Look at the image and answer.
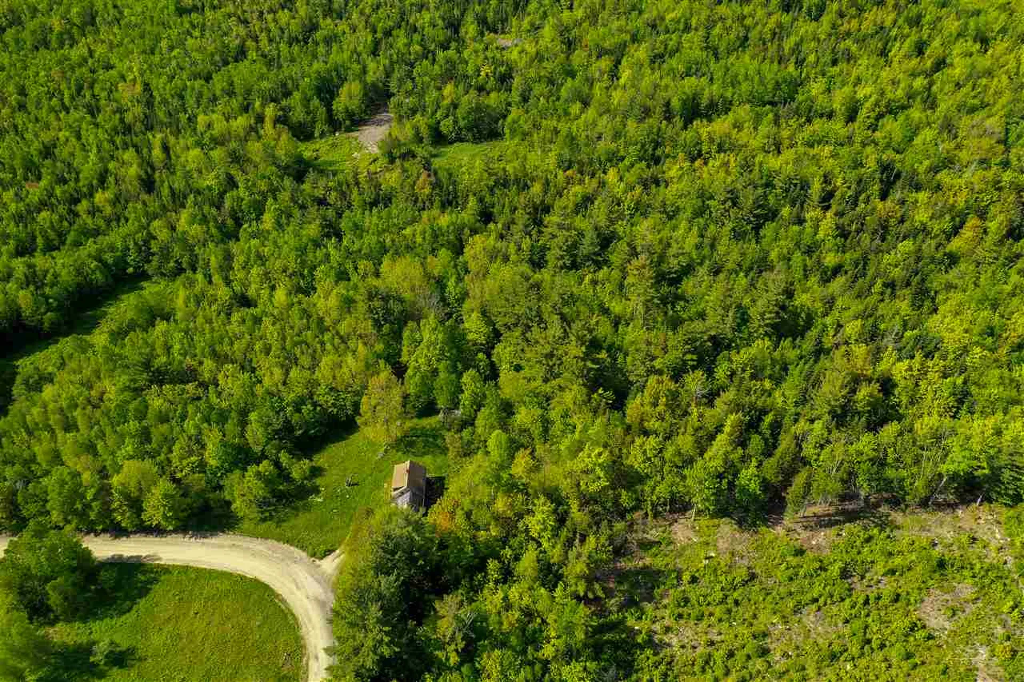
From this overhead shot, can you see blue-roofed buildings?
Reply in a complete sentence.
No, there appears to be no blue-roofed building in this shot.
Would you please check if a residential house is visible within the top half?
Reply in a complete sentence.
No, no residential house appears within the top half.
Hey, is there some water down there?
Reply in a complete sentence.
No, water can't be seen anywhere here.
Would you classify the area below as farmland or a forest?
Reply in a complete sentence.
The area seen from above is a forest.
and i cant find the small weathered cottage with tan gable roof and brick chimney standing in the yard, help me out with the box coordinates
[391,460,427,519]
